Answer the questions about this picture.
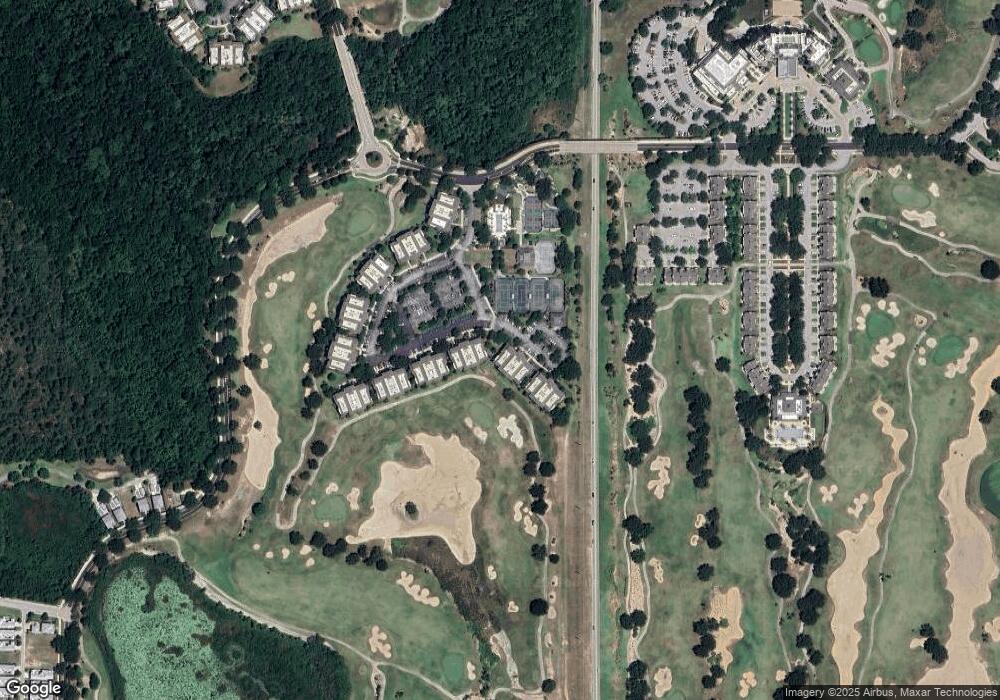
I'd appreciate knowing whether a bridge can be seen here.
Yes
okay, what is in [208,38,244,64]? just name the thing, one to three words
building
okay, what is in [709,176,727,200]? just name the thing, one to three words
house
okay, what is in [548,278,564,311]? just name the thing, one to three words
tennis court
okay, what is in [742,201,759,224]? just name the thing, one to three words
house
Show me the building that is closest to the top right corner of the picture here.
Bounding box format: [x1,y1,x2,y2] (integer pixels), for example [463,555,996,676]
[824,58,867,100]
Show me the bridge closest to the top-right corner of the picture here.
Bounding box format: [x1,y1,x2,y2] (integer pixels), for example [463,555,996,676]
[560,140,638,153]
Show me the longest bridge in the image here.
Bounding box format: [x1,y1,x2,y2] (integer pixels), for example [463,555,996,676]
[327,28,374,145]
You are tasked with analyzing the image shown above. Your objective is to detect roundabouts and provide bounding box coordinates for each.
[358,143,390,174]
